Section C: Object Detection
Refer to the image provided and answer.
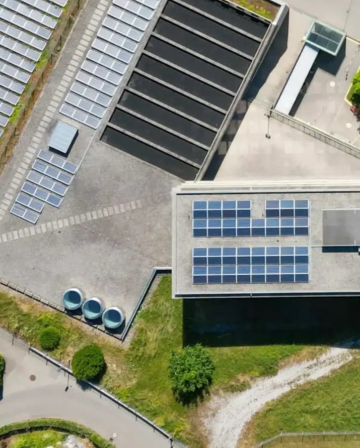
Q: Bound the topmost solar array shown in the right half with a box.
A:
[191,199,308,237]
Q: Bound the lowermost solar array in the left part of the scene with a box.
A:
[8,150,78,223]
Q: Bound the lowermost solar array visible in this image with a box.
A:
[191,246,307,283]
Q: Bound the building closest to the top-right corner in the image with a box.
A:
[302,20,348,58]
